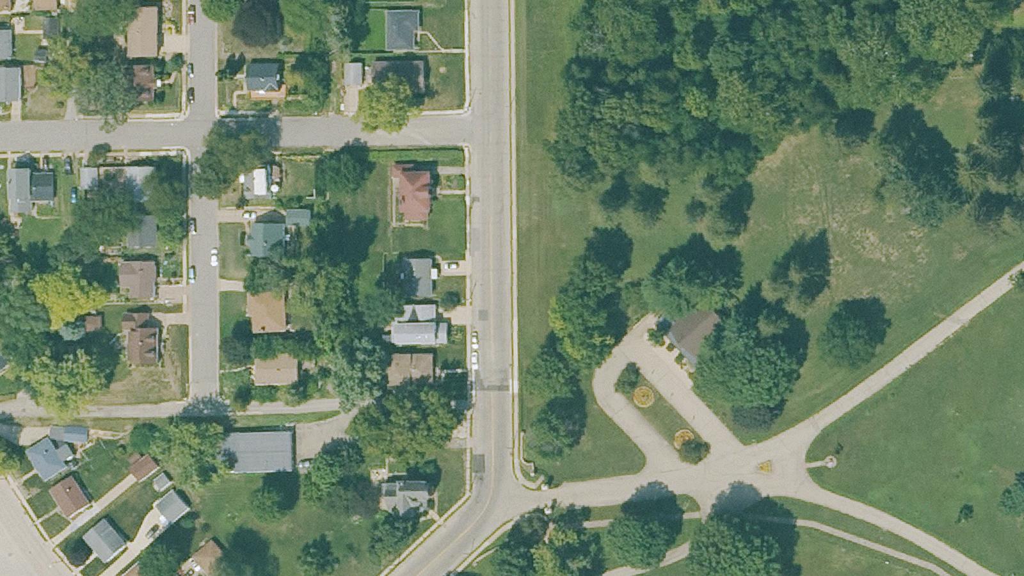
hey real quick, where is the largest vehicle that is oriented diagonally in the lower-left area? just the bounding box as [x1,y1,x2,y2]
[146,524,160,539]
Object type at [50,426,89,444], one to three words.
building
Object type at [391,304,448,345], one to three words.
house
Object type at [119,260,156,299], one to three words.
house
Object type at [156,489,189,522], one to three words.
building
